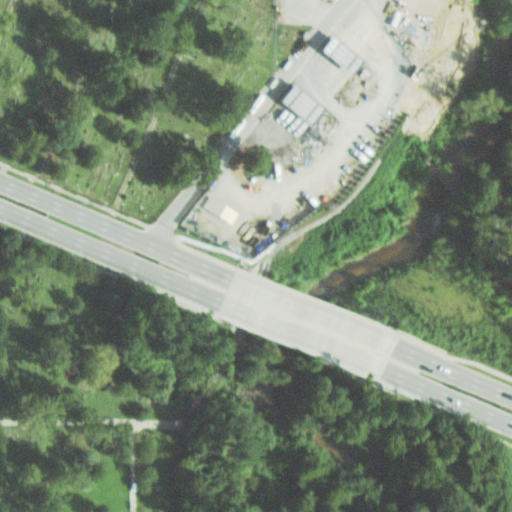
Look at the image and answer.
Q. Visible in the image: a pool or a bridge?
bridge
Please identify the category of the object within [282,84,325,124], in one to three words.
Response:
shed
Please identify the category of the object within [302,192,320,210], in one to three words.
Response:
vehicle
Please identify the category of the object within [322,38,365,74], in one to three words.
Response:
shed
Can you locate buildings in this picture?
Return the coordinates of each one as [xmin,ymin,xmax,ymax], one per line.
[322,38,365,74]
[282,84,325,124]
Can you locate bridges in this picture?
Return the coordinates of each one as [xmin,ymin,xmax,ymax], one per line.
[220,264,410,390]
